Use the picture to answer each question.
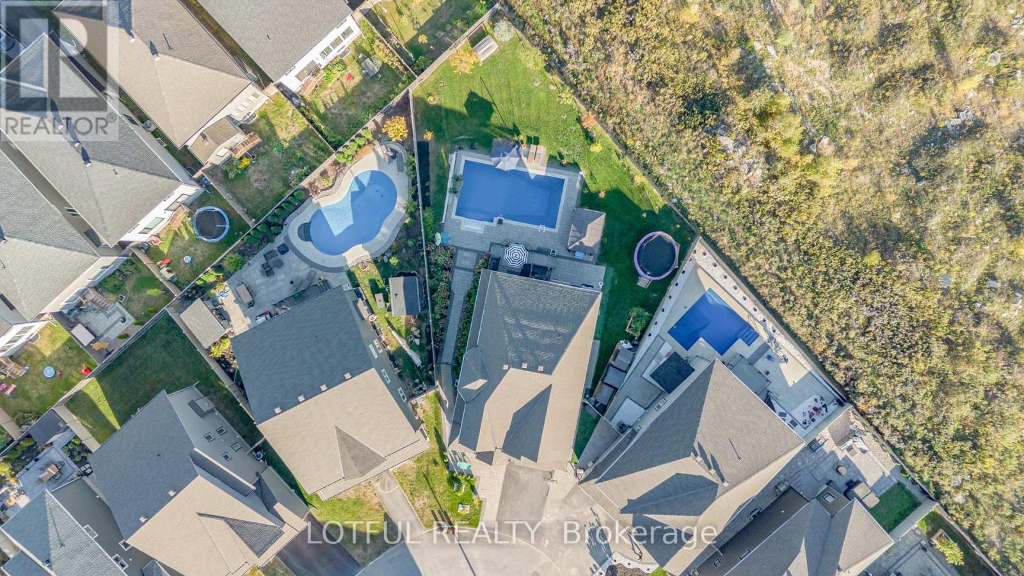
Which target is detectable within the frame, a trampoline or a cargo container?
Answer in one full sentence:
Visible in the photo is a trampoline.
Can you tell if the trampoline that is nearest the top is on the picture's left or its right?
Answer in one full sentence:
The trampoline that is nearest the top is on the left side of the image.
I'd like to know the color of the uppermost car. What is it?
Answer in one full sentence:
In this view, the uppermost car is blue.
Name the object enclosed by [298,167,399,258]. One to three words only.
swimming pool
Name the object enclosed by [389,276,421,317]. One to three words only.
shed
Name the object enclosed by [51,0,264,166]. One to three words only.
house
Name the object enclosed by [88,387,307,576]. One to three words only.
house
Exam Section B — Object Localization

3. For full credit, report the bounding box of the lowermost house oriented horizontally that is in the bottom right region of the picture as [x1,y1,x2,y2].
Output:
[688,485,894,576]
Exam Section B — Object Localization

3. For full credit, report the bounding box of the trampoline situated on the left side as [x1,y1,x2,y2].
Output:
[185,203,231,243]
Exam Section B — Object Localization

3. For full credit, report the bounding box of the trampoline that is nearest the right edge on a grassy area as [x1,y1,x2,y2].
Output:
[633,232,681,278]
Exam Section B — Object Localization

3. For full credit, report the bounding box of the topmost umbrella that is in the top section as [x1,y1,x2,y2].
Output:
[490,142,520,172]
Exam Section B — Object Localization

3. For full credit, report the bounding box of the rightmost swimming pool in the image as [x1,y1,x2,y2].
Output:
[665,286,761,357]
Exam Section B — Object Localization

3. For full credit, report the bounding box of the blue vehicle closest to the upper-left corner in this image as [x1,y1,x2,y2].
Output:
[0,28,24,63]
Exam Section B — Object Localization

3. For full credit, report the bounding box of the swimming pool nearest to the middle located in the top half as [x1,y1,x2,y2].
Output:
[451,155,569,233]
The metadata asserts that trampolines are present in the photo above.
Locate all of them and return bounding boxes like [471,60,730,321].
[185,203,231,243]
[633,232,681,278]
